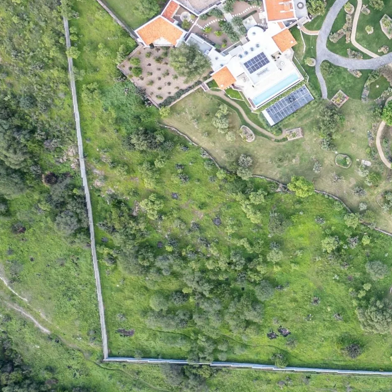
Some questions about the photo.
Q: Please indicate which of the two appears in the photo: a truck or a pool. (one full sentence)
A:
I can see a pool in this picture.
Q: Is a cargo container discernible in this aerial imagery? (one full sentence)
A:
No, I can't see a single cargo container in this photo.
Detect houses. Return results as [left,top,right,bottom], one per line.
[133,15,190,48]
[208,21,299,90]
